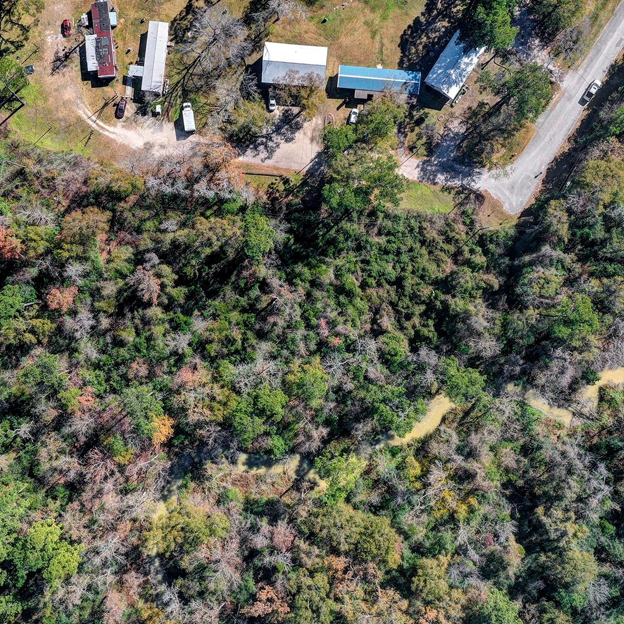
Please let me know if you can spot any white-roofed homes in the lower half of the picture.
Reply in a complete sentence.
No, no white-roofed home can be made out in the lower half of the picture.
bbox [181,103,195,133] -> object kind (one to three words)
vehicle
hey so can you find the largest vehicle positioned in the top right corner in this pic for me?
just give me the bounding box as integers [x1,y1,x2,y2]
[585,77,603,102]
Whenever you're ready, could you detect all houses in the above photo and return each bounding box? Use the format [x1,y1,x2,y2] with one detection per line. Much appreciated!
[85,0,117,78]
[128,20,169,94]
[337,65,421,100]
[261,41,328,89]
[425,25,490,101]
